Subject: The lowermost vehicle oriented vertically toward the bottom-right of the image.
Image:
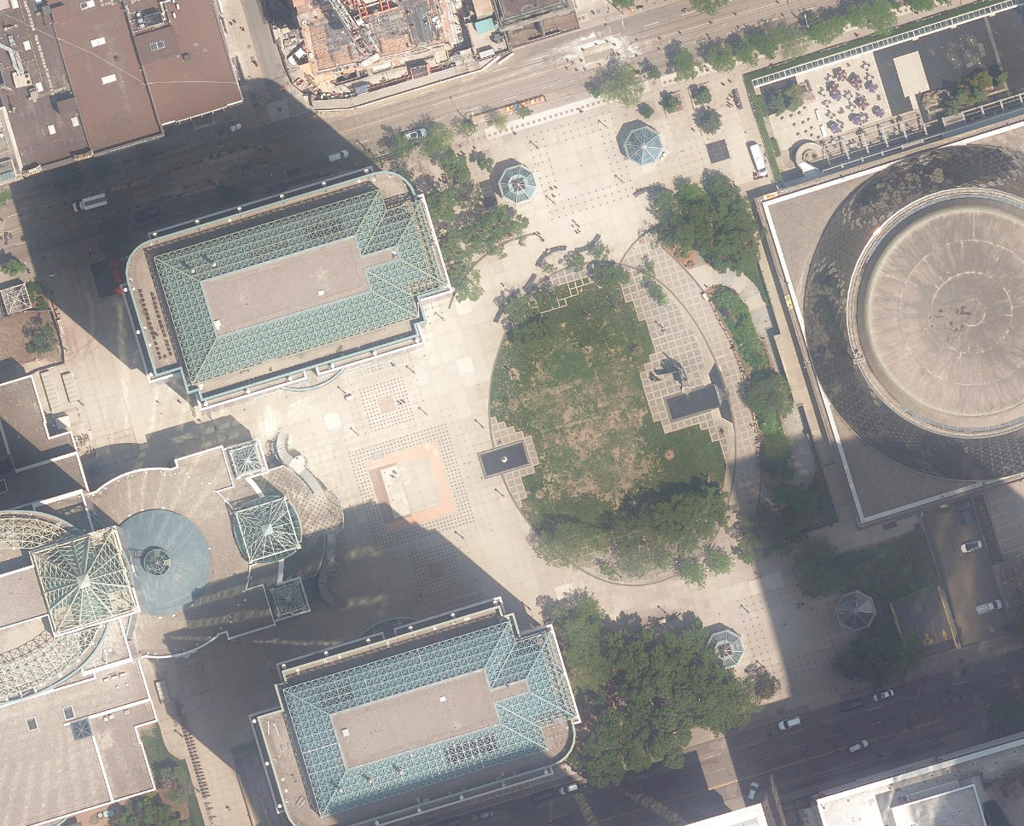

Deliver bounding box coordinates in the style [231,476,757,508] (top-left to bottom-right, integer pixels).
[747,780,759,802]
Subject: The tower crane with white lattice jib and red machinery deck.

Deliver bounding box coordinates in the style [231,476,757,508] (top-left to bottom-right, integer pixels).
[332,0,380,67]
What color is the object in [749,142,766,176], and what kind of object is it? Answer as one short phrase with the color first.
white vehicle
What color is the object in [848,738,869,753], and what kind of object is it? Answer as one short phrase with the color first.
gray car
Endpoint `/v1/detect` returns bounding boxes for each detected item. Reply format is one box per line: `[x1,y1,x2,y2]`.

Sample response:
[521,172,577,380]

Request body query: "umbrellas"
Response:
[869,83,879,92]
[875,107,884,117]
[857,98,870,110]
[851,114,861,124]
[830,83,840,93]
[830,123,840,133]
[836,69,848,81]
[851,76,862,87]
[831,91,841,100]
